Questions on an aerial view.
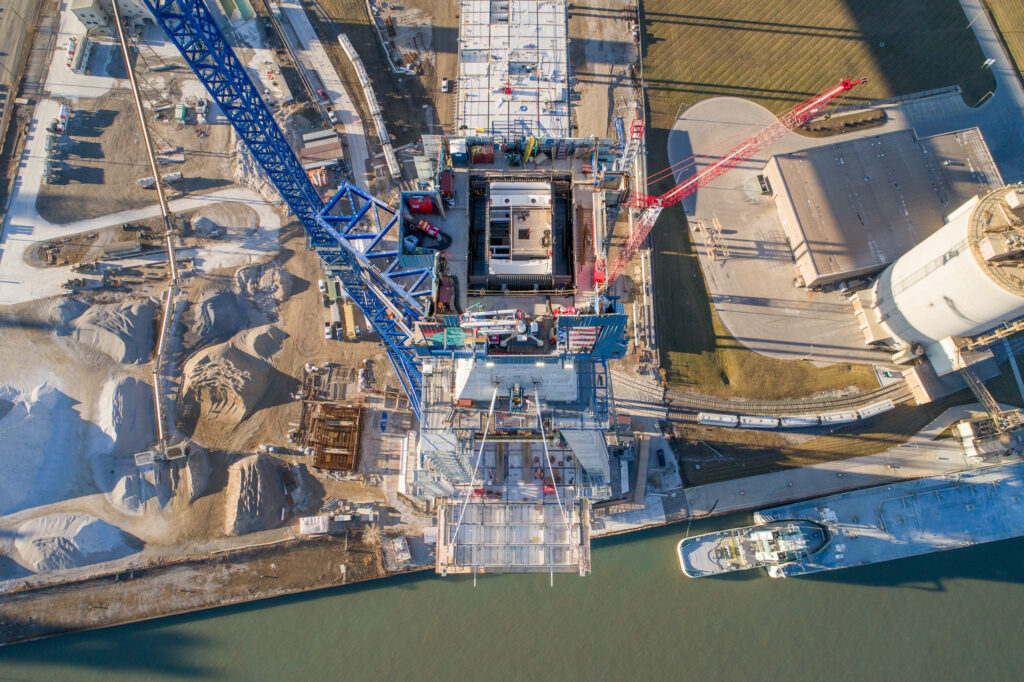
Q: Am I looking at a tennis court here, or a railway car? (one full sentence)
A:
This aerial view contains a railway car.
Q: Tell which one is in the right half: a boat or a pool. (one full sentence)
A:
You can see a boat in the right half.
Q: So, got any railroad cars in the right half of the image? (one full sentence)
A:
Yes, I can see a railroad car in the right half of the image.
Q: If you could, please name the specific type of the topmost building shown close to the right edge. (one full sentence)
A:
From above, the topmost building shown close to the right edge can be identified as a warehouse.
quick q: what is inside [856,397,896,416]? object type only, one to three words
rail car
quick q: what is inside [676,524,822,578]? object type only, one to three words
boat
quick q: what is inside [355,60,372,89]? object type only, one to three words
rail car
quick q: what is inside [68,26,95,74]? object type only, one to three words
building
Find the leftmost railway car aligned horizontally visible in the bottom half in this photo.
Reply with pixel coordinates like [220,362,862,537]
[695,412,738,426]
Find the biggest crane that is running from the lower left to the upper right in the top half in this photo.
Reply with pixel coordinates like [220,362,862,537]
[600,74,870,312]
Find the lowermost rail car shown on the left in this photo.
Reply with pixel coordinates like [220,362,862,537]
[386,145,403,180]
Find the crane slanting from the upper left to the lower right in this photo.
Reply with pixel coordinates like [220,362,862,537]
[136,0,433,418]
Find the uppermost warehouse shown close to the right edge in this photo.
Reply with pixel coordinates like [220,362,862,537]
[764,126,1002,285]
